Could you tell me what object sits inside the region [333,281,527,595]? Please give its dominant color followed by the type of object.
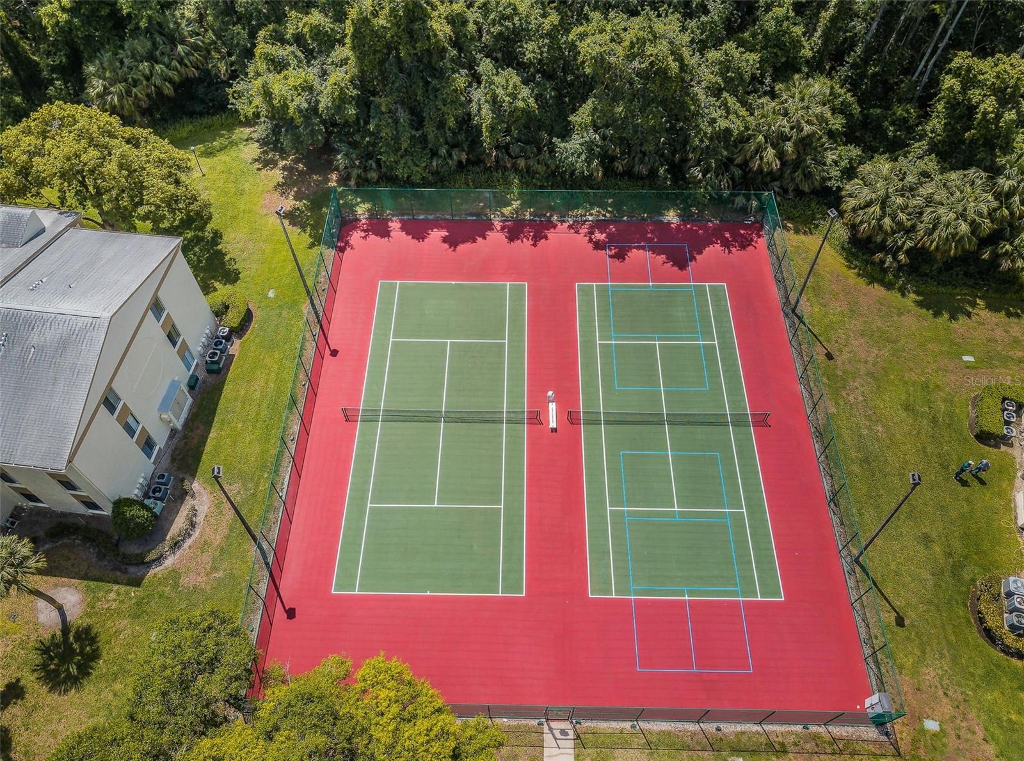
green tennis court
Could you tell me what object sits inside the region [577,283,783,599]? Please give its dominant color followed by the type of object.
green tennis court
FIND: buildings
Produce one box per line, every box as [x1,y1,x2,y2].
[0,204,217,532]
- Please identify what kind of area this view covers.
sports ground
